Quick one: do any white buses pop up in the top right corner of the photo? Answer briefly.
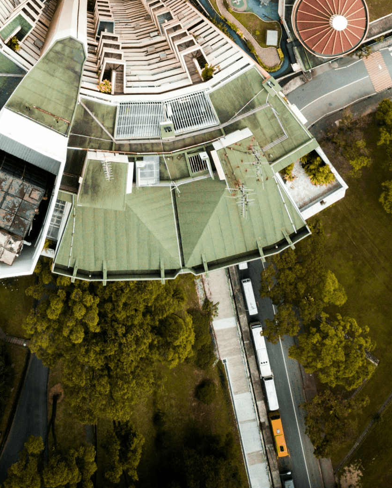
No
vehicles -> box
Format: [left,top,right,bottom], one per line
[267,410,290,457]
[280,470,295,488]
[237,262,250,274]
[261,375,280,412]
[239,274,259,315]
[248,319,273,377]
